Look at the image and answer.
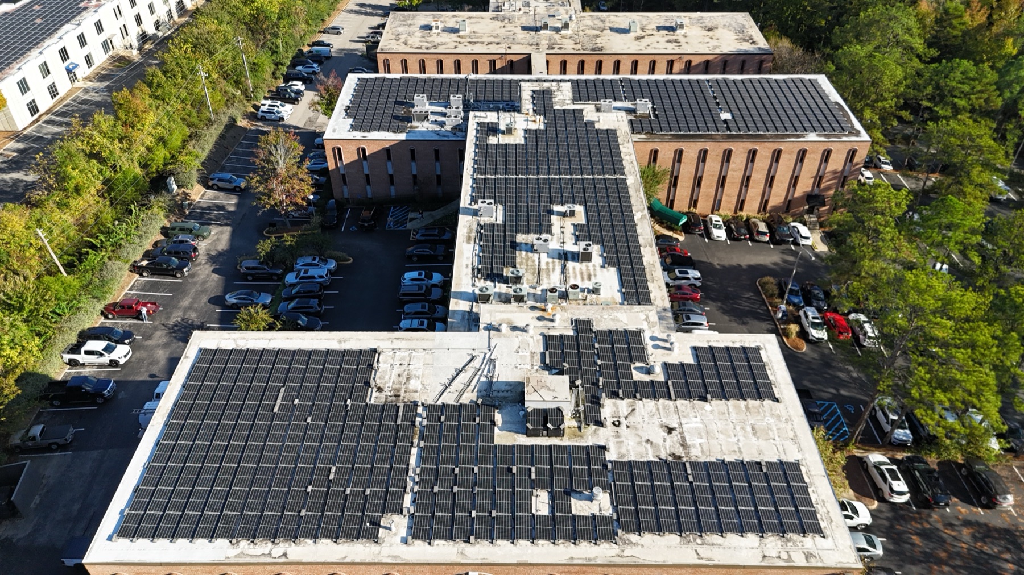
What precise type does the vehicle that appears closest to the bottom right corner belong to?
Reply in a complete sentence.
It turns out the vehicle that appears closest to the bottom right corner is an automobile.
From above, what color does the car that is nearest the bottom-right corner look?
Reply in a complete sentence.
The car that is nearest the bottom-right corner is black.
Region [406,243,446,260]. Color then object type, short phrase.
black car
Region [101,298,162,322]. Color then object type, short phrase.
red truck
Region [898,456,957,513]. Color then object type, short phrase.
black car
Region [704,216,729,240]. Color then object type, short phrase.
white car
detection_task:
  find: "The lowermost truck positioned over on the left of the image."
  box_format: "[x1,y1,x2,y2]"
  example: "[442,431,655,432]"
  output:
[60,534,98,566]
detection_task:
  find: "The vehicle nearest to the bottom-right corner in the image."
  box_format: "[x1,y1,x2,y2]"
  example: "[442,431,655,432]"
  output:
[959,459,1018,512]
